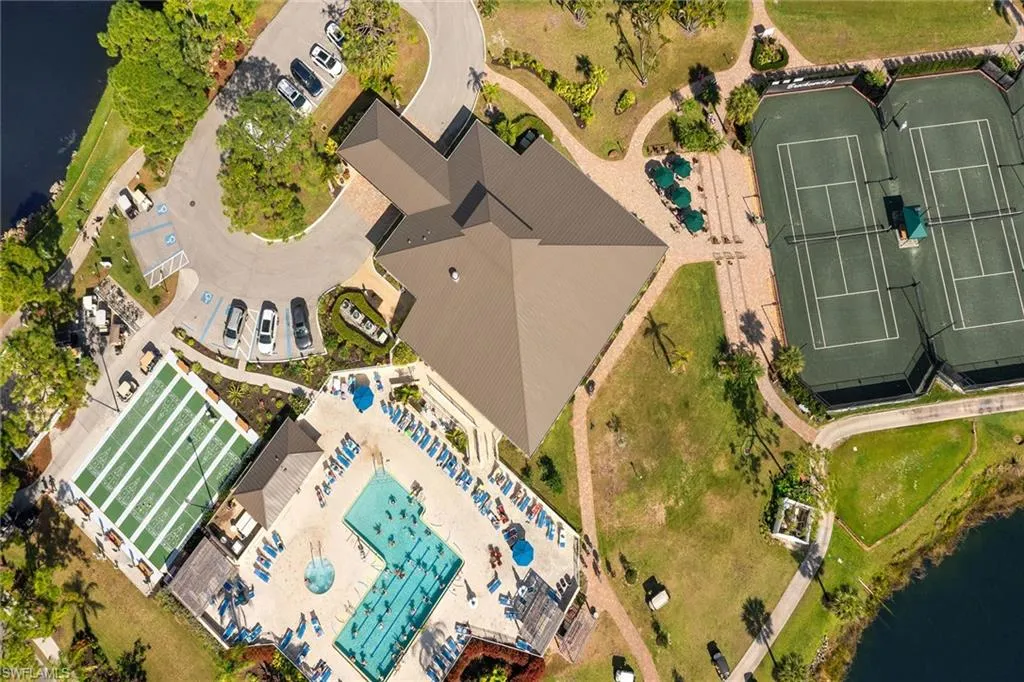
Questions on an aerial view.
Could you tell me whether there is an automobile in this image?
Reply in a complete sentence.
Yes, the picture does show an automobile.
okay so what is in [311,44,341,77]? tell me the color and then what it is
white car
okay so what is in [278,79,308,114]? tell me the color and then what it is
white car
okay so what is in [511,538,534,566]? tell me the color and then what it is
blue umbrella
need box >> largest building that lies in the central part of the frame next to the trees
[337,98,667,457]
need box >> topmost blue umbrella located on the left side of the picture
[353,385,374,410]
